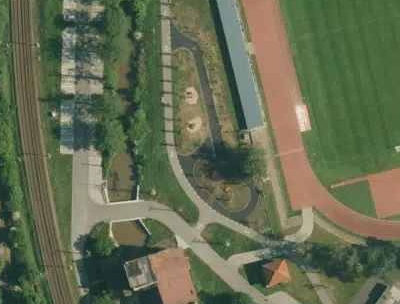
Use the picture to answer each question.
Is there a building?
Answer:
Yes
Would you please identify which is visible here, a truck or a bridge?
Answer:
bridge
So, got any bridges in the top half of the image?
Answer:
No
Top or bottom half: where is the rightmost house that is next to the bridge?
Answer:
bottom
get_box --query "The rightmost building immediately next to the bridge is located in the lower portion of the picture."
[150,250,196,304]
